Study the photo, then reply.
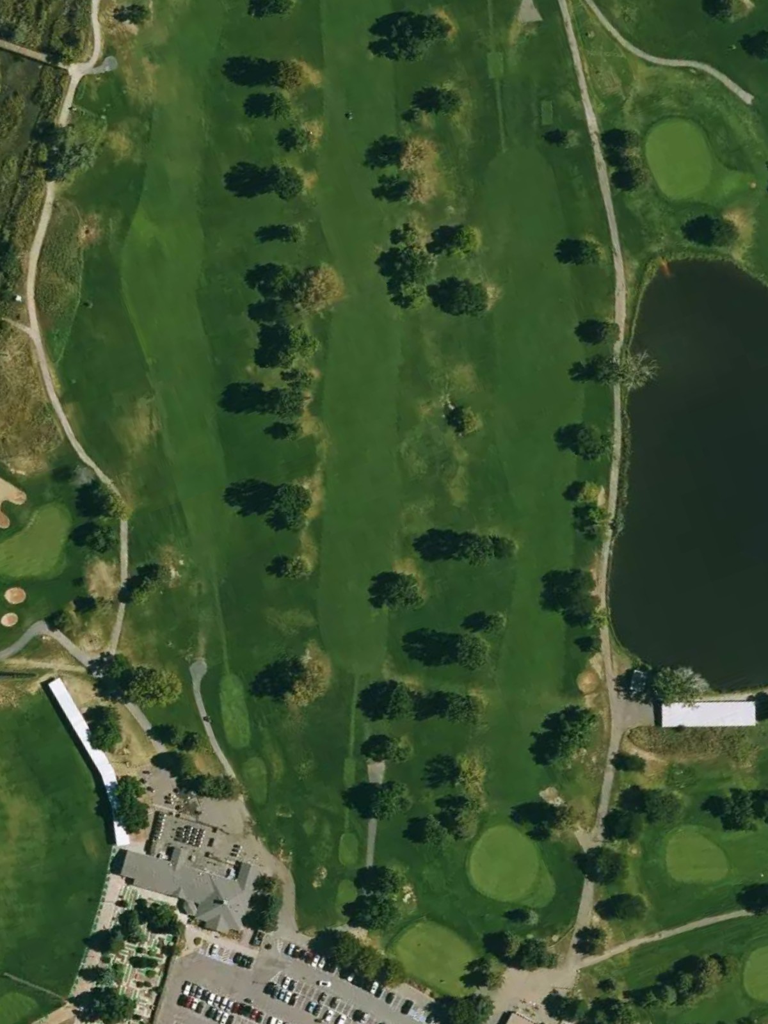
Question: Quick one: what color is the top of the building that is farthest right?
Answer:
white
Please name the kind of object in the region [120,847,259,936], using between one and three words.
building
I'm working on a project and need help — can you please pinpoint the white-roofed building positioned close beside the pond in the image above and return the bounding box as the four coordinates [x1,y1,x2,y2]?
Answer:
[662,701,757,727]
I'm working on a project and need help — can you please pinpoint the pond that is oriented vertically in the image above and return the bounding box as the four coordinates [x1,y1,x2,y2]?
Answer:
[609,261,768,692]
